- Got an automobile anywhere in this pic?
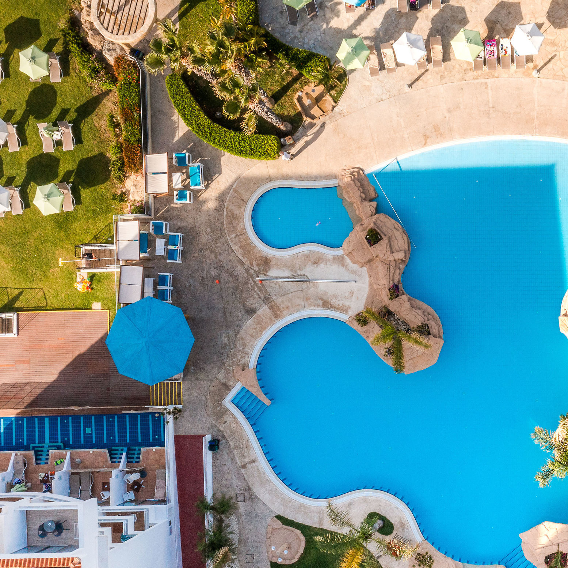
No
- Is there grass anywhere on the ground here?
Yes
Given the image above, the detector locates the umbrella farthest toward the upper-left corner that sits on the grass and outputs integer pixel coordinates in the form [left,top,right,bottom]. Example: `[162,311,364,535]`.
[20,47,52,80]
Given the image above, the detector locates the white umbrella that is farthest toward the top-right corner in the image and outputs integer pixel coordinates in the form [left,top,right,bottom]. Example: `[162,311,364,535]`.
[511,24,544,57]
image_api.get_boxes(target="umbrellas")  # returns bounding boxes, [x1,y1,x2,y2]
[511,24,544,57]
[0,118,10,147]
[0,187,13,215]
[105,296,196,385]
[338,38,369,71]
[283,0,312,10]
[20,47,52,80]
[451,29,482,62]
[394,34,425,67]
[35,184,66,216]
